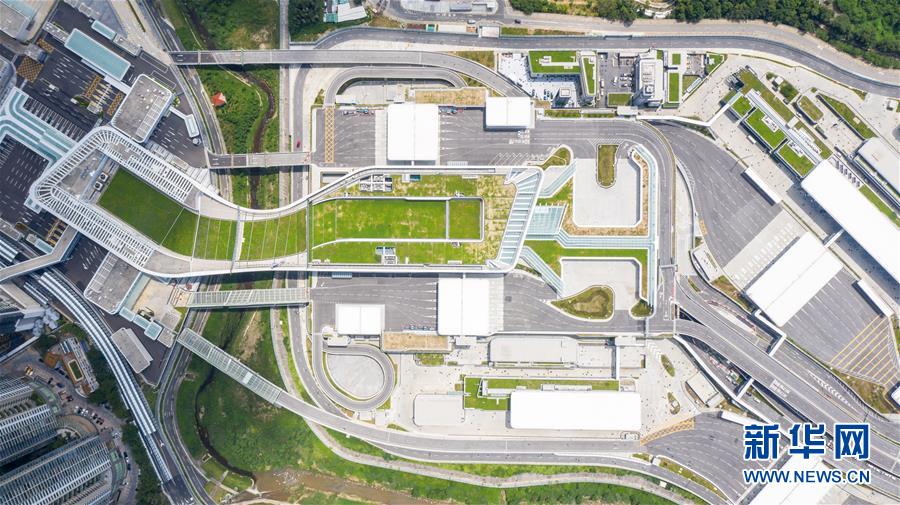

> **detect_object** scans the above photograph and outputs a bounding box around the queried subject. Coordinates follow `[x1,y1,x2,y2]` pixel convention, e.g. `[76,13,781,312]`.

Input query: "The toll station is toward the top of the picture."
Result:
[649,120,784,269]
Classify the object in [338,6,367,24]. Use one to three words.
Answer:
shed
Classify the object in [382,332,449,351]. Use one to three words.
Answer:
building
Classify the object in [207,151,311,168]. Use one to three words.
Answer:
bridge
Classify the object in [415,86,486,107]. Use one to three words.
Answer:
building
